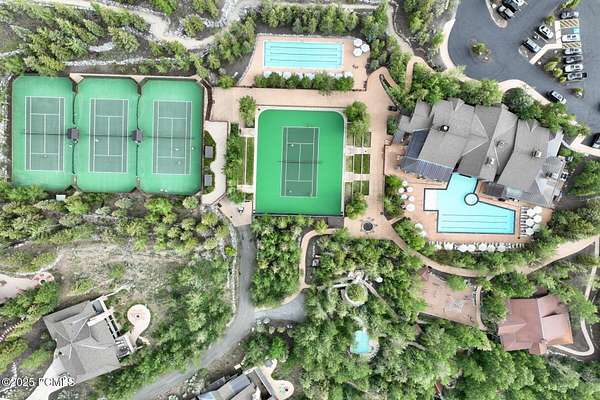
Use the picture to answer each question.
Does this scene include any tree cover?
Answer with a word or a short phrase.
Yes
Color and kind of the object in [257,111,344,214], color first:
green tennis court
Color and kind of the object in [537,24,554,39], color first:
white car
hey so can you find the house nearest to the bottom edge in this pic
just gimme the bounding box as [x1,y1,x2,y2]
[196,365,275,400]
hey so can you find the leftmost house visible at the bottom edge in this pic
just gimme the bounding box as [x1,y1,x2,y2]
[43,289,125,380]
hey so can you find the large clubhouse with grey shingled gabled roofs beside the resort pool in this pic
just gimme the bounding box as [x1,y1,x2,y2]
[393,100,566,204]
